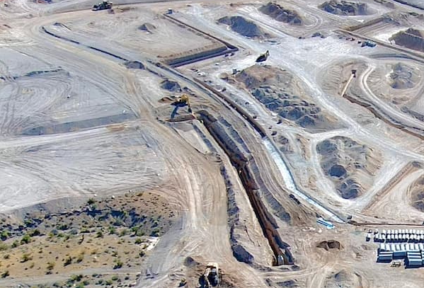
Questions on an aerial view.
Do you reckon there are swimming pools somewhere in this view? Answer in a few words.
No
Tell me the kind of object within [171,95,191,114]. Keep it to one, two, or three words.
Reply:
work vehicle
